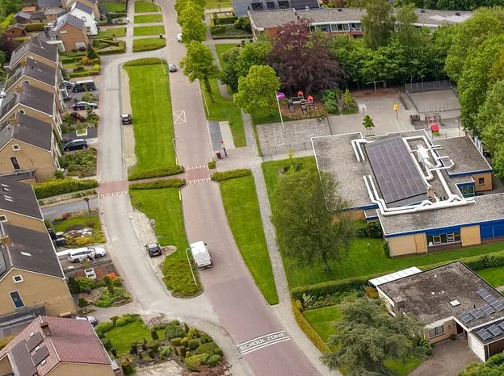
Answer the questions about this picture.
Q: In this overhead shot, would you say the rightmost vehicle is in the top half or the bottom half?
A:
bottom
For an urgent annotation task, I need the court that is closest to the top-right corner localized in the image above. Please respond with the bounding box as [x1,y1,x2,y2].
[408,91,460,111]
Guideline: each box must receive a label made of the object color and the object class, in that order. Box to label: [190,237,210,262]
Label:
white vehicle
